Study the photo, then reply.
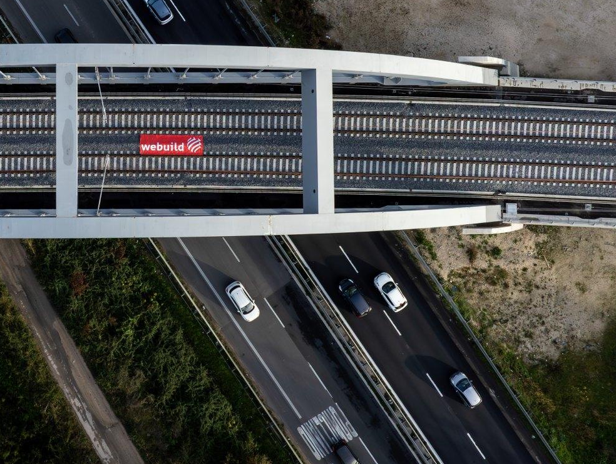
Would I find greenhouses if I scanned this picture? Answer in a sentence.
No, the frame has no greenhouse in it.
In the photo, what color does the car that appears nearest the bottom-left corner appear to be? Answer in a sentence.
In this view, the car that appears nearest the bottom-left corner is white.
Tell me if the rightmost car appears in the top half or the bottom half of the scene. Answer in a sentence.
It is in the bottom half that the rightmost car appears.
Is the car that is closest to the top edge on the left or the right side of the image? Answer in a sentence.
The car that is closest to the top edge is on the left side of the image.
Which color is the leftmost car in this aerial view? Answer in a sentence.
The color of the leftmost car is black.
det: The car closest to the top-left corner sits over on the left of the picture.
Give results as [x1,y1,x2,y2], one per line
[53,25,80,45]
